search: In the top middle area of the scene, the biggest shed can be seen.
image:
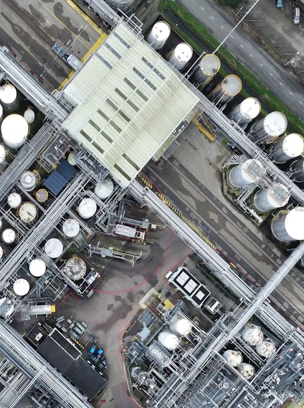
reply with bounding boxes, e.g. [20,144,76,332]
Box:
[47,21,200,192]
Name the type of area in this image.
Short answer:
industrial area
